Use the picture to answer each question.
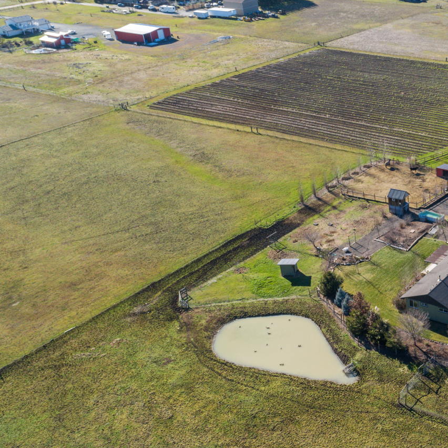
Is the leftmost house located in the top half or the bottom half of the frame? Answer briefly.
top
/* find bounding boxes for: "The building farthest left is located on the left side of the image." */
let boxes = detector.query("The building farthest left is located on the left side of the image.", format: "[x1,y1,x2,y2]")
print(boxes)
[5,17,41,42]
